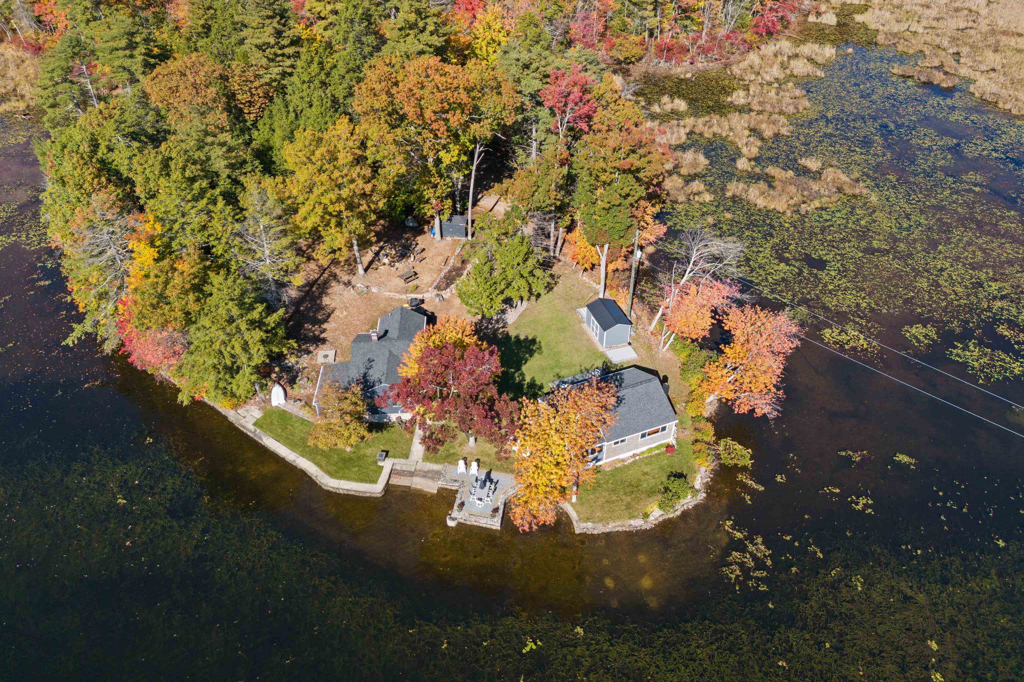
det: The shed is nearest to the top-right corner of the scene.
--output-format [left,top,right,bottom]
[583,298,632,348]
